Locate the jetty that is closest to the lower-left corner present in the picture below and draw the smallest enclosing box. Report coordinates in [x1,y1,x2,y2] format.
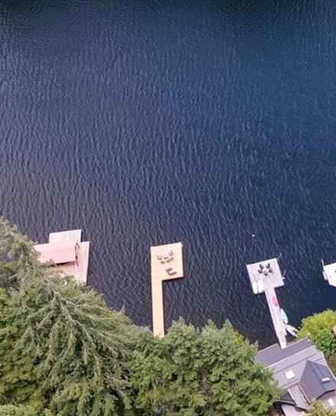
[30,229,91,288]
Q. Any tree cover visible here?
Yes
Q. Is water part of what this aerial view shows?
Yes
